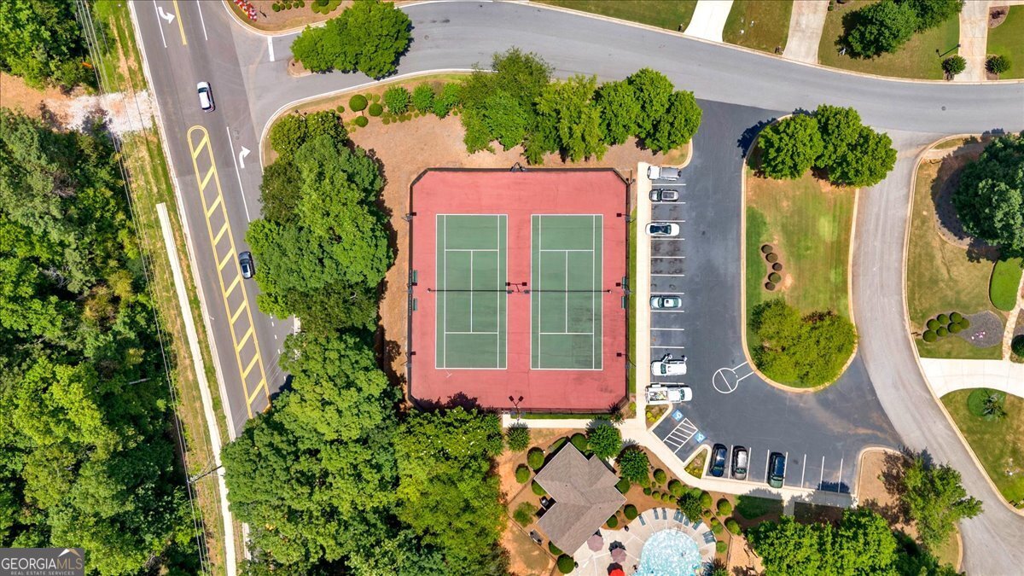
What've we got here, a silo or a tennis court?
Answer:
tennis court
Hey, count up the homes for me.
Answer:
1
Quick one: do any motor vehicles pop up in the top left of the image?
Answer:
Yes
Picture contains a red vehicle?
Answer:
No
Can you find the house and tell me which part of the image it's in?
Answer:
bottom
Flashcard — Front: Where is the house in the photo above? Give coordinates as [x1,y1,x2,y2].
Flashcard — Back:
[534,442,627,556]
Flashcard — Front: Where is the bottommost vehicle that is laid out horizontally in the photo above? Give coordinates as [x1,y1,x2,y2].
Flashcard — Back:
[645,385,693,402]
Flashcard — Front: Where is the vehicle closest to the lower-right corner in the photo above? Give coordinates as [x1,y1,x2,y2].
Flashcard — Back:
[768,453,786,486]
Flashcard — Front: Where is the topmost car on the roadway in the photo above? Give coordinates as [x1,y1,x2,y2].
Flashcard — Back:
[197,82,216,112]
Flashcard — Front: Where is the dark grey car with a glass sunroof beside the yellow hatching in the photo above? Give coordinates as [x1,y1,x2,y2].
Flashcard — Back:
[238,250,257,280]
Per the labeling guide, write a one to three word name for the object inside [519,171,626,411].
tennis court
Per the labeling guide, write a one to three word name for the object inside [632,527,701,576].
swimming pool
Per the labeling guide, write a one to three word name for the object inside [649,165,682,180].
car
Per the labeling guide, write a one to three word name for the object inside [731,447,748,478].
car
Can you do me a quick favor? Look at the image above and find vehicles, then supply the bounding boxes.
[710,445,727,476]
[649,188,679,203]
[197,82,216,112]
[768,453,786,486]
[650,295,682,309]
[731,447,748,478]
[238,250,257,280]
[652,356,687,376]
[645,385,693,402]
[649,165,682,180]
[646,222,679,237]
